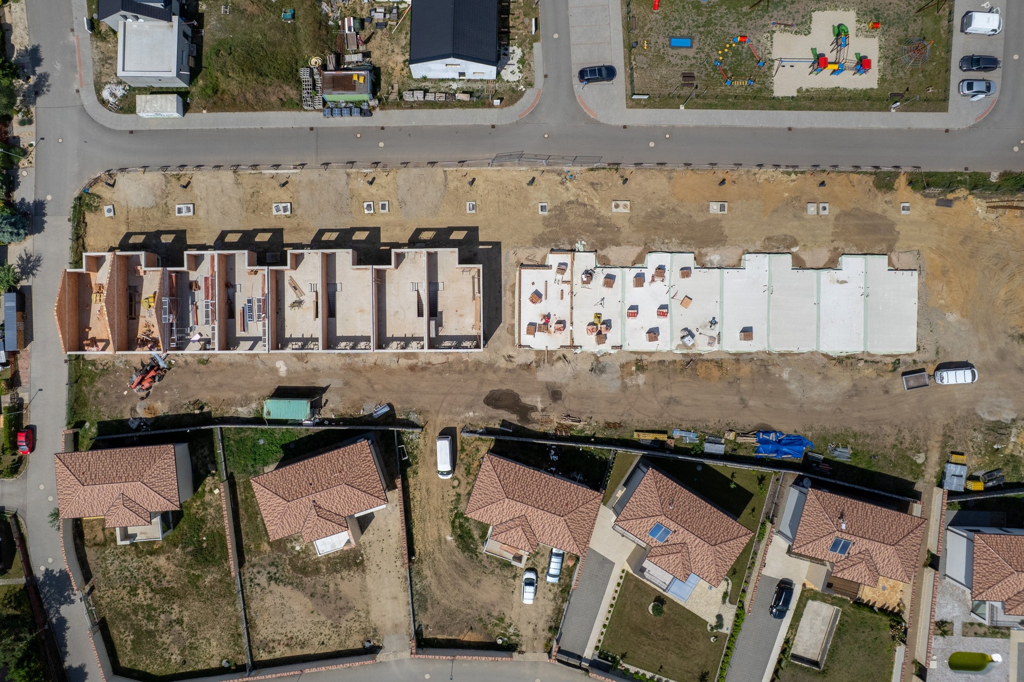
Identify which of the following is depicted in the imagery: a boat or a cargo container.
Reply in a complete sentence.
The image shows a cargo container.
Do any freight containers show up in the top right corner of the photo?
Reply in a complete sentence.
No, there's no freight container to be seen in the top right corner of the photo.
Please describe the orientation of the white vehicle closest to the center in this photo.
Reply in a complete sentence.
In this picture, the white vehicle closest to the center lies vertically.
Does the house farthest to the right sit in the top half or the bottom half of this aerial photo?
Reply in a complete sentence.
The bottom half of the photo is where the house farthest to the right is.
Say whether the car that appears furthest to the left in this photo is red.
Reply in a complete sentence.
Yes, the car that appears furthest to the left appears red.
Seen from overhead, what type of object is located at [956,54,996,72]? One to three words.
car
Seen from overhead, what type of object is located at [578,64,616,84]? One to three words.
car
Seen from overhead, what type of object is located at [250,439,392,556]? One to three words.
house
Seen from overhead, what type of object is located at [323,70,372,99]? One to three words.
shed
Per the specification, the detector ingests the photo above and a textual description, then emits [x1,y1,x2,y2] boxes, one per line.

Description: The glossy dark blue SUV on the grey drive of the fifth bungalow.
[769,577,794,617]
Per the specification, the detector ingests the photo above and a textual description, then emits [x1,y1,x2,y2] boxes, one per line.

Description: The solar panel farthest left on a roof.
[648,523,672,543]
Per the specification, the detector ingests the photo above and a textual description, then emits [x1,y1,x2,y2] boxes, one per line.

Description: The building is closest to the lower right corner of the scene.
[947,526,1024,627]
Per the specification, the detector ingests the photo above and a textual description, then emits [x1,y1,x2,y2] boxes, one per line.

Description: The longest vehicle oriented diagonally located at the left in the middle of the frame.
[129,354,170,395]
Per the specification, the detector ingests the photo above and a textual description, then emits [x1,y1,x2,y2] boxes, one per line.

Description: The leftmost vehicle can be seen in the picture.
[16,426,36,456]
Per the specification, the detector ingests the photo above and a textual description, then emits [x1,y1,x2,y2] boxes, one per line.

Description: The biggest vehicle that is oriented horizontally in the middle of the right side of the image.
[930,364,975,383]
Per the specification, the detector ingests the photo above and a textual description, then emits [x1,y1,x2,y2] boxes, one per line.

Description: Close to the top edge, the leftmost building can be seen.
[98,0,190,86]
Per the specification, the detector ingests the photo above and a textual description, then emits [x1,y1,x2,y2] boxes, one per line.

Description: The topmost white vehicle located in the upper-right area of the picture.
[957,8,999,35]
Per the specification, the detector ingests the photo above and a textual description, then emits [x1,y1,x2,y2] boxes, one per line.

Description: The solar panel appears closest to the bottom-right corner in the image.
[829,537,852,556]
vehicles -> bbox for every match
[521,567,538,604]
[930,364,975,383]
[578,64,616,84]
[957,8,999,35]
[545,545,563,581]
[129,354,170,395]
[769,577,794,617]
[956,54,996,72]
[956,77,995,96]
[16,426,36,456]
[435,434,455,479]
